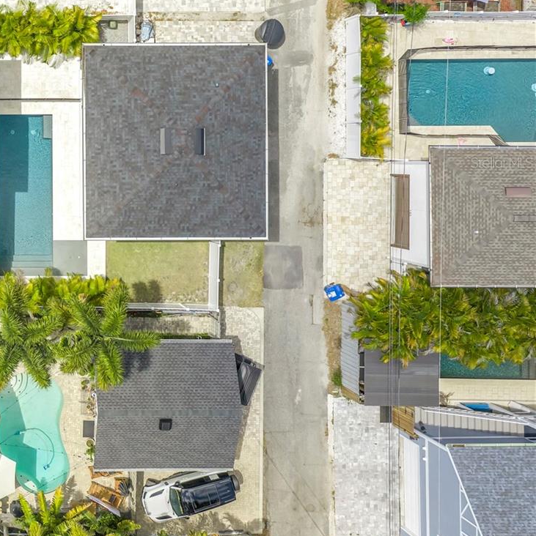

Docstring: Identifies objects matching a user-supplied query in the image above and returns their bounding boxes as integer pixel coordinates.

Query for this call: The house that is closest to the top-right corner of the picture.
[388,144,536,289]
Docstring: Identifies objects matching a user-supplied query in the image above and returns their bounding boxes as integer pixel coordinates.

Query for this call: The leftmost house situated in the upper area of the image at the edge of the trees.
[79,42,269,241]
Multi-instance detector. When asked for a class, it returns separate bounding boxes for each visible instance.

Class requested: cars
[140,472,239,521]
[236,356,270,404]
